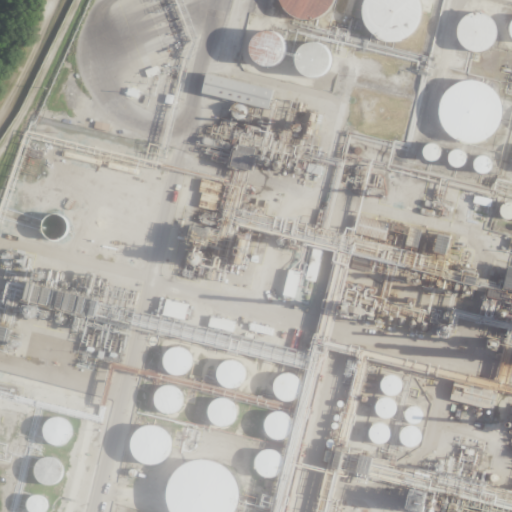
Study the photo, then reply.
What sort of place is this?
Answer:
industrial area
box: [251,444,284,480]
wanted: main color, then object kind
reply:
white storage tank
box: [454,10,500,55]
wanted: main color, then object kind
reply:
white storage tank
